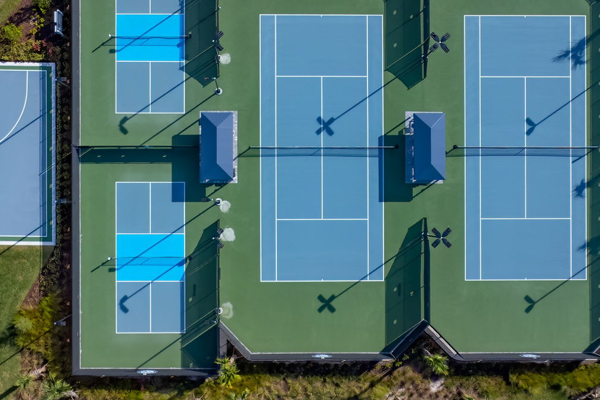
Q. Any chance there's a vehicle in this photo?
No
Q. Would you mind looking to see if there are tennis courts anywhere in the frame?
Yes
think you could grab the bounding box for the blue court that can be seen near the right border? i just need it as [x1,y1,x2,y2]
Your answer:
[424,0,600,353]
